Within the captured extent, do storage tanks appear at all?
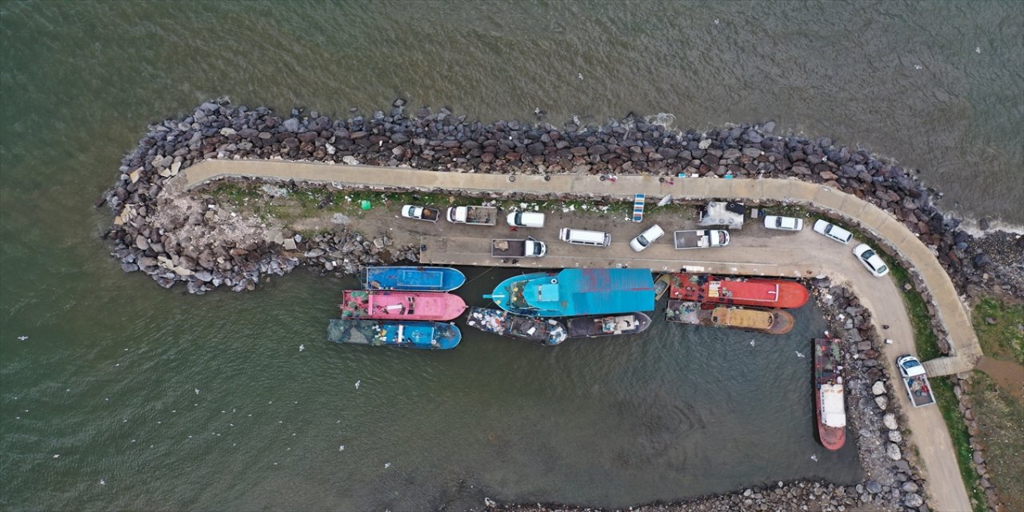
No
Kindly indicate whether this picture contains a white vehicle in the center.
Yes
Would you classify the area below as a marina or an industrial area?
marina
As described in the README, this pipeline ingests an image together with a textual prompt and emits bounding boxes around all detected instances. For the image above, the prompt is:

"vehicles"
[492,232,547,258]
[447,205,497,226]
[675,228,730,250]
[897,354,940,408]
[629,225,666,252]
[852,243,889,278]
[401,203,440,222]
[763,214,804,233]
[559,227,611,248]
[506,209,545,229]
[812,220,853,244]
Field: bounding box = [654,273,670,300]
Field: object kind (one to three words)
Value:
boat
